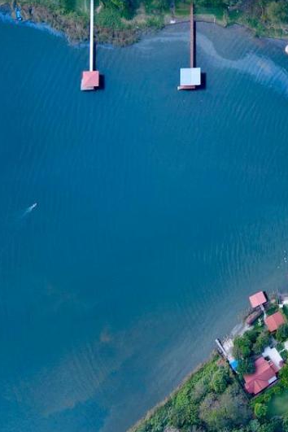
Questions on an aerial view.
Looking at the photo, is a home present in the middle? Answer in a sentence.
No, in the middle there is no home.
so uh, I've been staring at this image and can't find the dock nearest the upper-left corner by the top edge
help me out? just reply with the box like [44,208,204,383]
[81,0,101,90]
